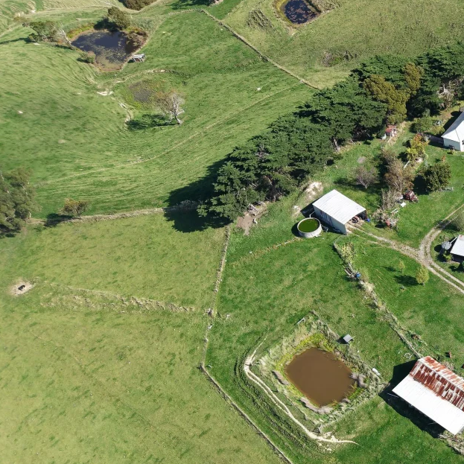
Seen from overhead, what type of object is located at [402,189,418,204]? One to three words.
work vehicle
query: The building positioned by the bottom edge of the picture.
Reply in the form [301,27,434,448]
[395,355,464,442]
